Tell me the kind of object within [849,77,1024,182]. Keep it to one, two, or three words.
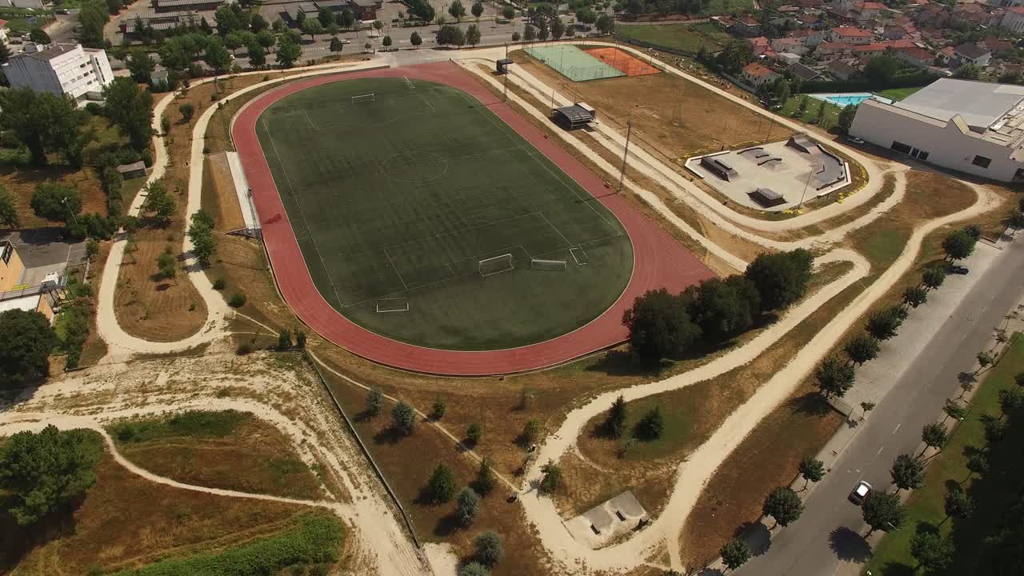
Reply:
building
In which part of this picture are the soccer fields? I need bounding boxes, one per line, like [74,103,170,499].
[256,76,632,350]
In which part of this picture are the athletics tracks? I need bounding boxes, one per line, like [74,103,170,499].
[231,61,723,378]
